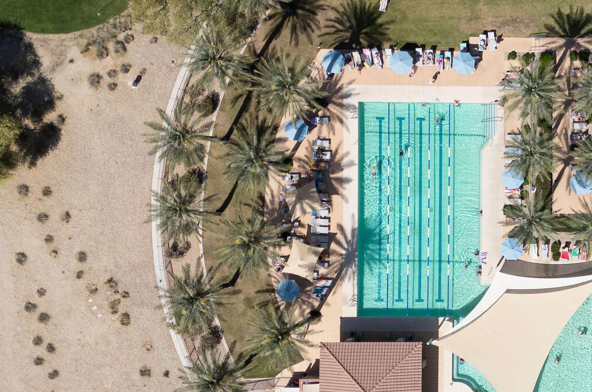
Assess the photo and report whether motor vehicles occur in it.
No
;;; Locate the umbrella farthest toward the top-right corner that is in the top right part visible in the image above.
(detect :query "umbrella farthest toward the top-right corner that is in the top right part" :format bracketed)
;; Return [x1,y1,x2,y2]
[452,51,476,75]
